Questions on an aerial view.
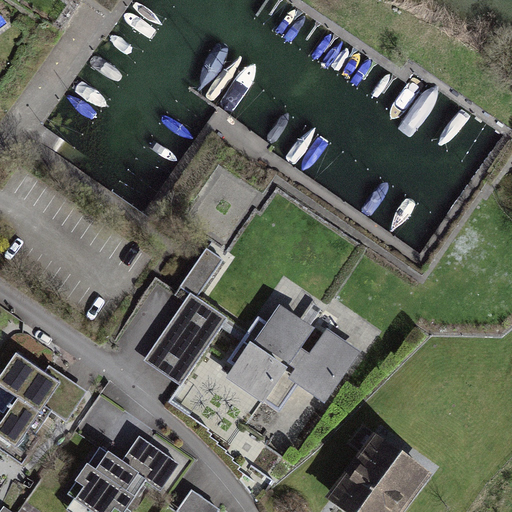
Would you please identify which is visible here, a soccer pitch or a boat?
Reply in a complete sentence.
It is a boat that can be seen here.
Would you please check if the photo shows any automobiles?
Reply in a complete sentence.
Yes, there is an automobile in the image.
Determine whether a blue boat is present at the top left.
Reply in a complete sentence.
Yes, a blue boat appears at the top left.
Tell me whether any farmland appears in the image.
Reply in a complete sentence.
No, there's no farmland in this view.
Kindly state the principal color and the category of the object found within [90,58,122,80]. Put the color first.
white boat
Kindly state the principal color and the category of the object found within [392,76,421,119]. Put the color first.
white boat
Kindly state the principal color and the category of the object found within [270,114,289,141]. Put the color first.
gray boat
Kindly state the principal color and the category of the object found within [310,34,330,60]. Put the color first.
blue boat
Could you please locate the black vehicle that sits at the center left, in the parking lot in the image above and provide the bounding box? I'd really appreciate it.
[122,244,140,266]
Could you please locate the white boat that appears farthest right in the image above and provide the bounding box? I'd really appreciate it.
[441,109,470,144]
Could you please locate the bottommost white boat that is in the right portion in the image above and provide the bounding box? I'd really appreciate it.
[392,198,417,232]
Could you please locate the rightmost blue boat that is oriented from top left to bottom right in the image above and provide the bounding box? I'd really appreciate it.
[160,114,193,139]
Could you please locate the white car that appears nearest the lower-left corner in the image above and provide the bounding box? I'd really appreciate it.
[33,329,52,346]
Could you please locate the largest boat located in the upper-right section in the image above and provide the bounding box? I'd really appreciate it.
[401,85,438,136]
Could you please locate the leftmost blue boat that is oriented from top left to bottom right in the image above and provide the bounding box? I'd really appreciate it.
[67,96,98,120]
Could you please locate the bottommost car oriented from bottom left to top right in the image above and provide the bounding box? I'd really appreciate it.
[86,296,106,321]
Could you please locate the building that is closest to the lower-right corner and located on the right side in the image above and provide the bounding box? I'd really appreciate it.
[316,432,432,512]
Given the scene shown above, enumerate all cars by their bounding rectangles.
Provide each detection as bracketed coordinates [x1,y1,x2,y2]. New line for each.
[122,244,140,266]
[33,329,52,346]
[86,296,106,321]
[4,237,24,261]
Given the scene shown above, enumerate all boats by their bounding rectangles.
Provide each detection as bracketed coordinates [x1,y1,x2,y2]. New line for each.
[208,56,240,100]
[304,136,328,170]
[285,16,304,43]
[288,128,316,164]
[90,58,122,80]
[133,2,162,25]
[392,76,421,119]
[67,96,98,120]
[110,36,134,54]
[150,142,177,160]
[352,60,370,86]
[274,10,296,36]
[270,114,289,141]
[160,114,193,139]
[124,14,156,42]
[392,198,417,232]
[72,82,108,106]
[366,182,388,214]
[334,48,348,70]
[342,53,360,79]
[441,109,470,144]
[401,85,438,136]
[325,42,342,68]
[310,34,330,60]
[372,74,390,98]
[199,44,230,90]
[222,64,256,112]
